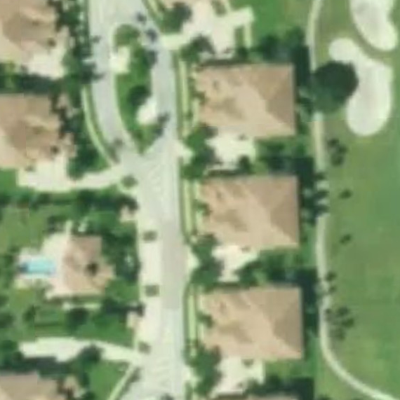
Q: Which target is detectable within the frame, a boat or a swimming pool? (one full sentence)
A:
Looking from above, you can make out a swimming pool.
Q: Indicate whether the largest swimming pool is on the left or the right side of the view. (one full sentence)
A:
The largest swimming pool is on the left side of the image.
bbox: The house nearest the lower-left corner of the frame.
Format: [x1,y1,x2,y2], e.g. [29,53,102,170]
[0,377,54,400]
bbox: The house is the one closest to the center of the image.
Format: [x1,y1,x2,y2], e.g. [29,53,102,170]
[201,176,300,249]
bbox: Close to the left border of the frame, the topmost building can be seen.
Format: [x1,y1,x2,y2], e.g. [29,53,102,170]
[0,0,60,59]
